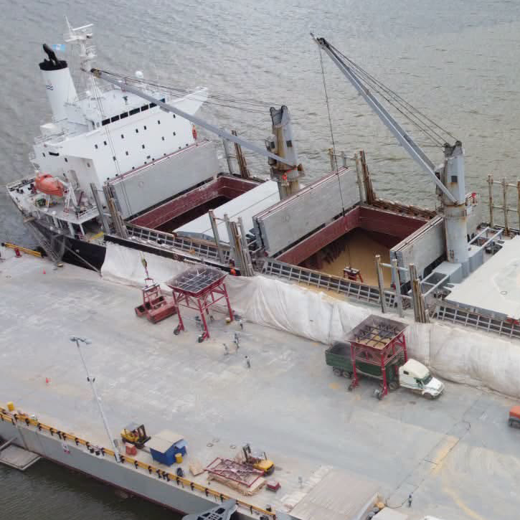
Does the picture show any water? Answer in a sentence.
Yes, water shows up in the scene.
